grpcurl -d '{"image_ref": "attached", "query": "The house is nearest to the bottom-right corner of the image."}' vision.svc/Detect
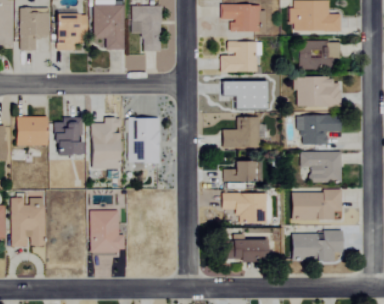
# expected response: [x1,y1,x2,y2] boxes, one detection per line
[292,230,344,262]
